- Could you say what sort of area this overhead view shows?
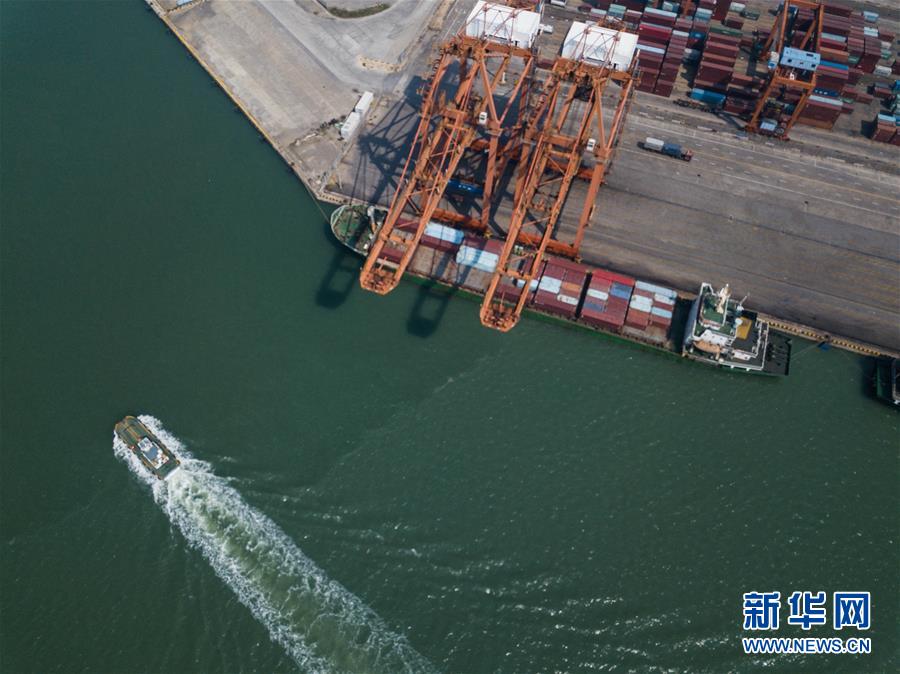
port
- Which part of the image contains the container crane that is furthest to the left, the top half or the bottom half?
top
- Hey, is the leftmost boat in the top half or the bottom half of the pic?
bottom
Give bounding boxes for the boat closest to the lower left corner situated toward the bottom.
[113,416,180,480]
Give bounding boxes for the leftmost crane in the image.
[368,0,546,292]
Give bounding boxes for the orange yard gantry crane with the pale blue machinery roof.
[748,0,829,138]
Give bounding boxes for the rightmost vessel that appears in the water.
[869,353,900,419]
